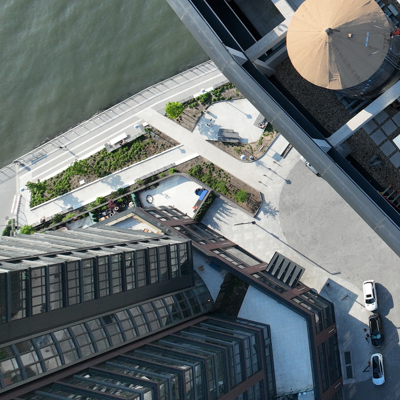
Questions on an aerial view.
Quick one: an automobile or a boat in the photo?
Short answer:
automobile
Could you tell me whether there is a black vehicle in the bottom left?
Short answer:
No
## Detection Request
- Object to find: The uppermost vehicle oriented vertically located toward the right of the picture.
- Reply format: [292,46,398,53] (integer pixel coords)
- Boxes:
[363,278,380,313]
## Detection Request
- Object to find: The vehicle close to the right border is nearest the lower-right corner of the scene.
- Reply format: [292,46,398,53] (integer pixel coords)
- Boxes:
[371,351,386,386]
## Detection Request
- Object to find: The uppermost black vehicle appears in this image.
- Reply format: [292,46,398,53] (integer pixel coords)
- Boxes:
[369,313,386,348]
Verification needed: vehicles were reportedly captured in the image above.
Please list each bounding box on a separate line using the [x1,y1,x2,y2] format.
[363,278,380,313]
[371,351,386,386]
[369,313,386,348]
[298,155,326,184]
